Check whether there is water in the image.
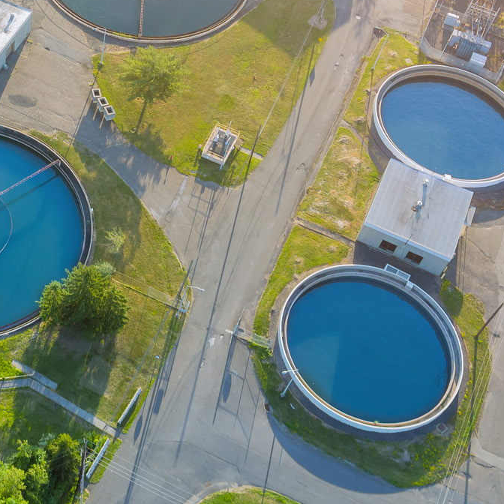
Yes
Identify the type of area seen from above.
industrial area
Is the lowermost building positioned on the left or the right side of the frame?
right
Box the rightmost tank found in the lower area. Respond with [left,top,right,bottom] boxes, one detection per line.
[275,265,463,433]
